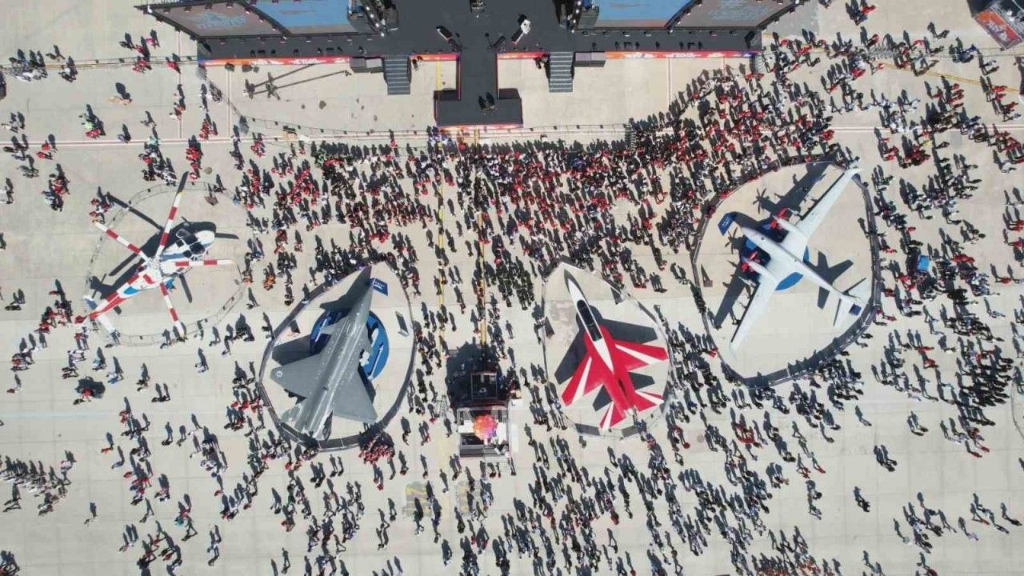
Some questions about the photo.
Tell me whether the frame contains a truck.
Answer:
No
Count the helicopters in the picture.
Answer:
1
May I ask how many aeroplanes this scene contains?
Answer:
3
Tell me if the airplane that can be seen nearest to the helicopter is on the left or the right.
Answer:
left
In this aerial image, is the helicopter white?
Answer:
Yes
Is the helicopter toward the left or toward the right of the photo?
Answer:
left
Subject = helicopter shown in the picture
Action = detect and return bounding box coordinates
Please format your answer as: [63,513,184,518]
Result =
[74,197,234,345]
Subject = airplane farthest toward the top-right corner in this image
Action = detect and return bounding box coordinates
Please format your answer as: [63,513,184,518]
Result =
[734,168,881,357]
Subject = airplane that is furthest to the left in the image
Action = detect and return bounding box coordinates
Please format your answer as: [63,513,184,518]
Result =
[269,284,379,448]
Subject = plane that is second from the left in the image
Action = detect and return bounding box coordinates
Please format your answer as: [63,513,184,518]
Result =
[559,276,668,429]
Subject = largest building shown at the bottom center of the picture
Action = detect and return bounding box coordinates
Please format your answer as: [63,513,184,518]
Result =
[457,391,512,450]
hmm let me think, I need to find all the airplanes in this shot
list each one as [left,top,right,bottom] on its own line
[734,168,881,357]
[559,276,668,429]
[269,284,379,448]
